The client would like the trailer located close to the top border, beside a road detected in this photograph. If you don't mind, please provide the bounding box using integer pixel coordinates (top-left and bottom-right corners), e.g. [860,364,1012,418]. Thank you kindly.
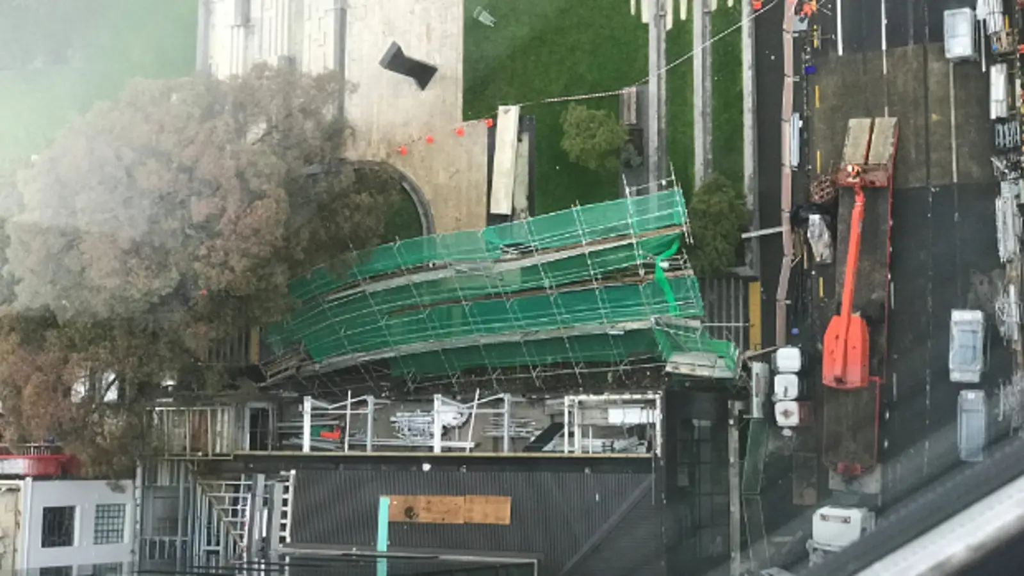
[940,8,982,64]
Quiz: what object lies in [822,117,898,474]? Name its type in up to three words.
trailer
